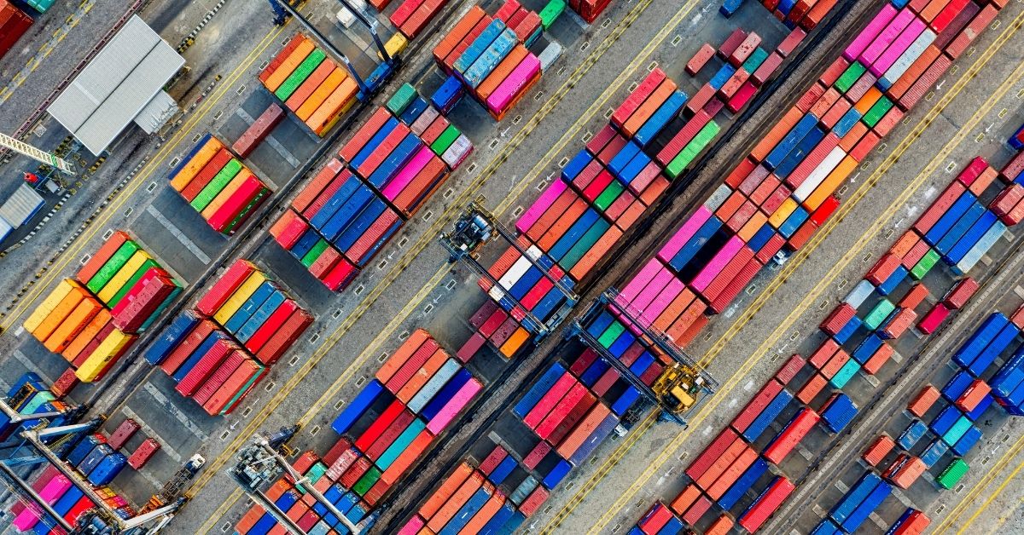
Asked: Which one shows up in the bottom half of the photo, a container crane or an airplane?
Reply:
container crane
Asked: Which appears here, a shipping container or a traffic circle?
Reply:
shipping container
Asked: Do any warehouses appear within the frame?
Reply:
Yes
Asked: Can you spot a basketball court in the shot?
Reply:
No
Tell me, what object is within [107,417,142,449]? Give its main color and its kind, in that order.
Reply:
red shipping container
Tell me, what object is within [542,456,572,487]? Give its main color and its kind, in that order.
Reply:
blue shipping container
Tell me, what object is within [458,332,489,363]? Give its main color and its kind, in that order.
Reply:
red shipping container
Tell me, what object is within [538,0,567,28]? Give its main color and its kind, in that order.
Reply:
green shipping container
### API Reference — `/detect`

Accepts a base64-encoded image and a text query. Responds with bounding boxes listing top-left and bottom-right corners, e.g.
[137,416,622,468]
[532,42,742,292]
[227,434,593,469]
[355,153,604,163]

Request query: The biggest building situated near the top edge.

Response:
[49,15,195,159]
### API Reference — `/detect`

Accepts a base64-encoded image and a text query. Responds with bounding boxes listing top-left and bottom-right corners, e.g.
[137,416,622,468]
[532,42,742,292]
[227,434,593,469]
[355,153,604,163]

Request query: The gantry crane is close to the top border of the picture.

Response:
[269,0,405,104]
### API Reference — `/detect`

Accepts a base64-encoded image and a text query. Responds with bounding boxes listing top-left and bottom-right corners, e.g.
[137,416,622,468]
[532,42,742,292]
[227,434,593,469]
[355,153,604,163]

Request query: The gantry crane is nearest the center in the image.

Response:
[436,195,583,343]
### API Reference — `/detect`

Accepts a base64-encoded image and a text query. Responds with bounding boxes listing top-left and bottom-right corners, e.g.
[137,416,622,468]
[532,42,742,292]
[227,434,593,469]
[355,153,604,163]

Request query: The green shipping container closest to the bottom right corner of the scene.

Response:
[934,458,969,490]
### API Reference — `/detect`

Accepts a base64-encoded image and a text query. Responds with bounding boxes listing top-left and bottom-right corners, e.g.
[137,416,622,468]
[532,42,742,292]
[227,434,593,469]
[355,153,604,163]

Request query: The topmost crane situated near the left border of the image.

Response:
[0,396,88,454]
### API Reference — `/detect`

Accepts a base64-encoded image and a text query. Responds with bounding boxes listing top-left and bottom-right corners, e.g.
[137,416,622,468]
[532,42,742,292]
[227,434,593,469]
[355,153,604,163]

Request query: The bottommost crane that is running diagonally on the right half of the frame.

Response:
[564,284,721,429]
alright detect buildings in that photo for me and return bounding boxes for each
[0,182,47,231]
[49,15,195,159]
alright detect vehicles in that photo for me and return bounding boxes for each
[774,243,795,264]
[127,452,208,535]
[612,396,654,441]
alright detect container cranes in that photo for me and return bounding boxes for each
[0,419,186,535]
[564,284,721,429]
[219,420,390,535]
[436,195,583,343]
[269,0,405,104]
[0,396,88,454]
